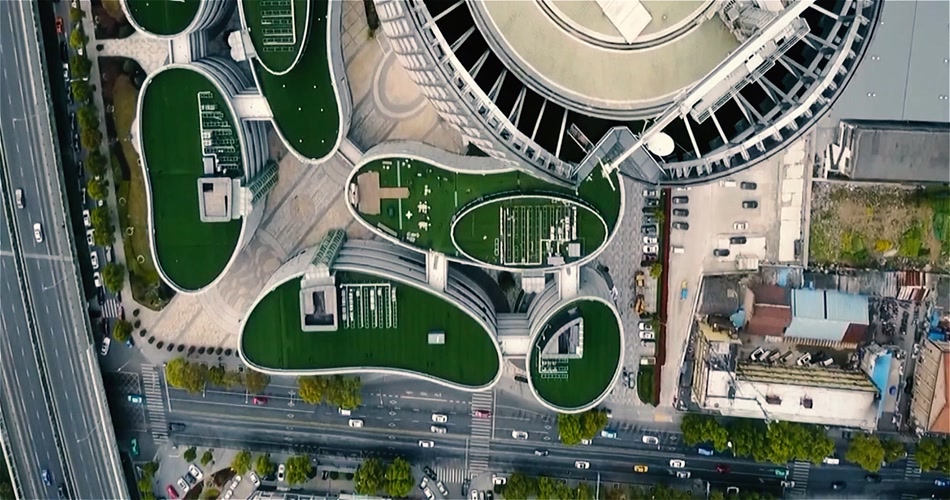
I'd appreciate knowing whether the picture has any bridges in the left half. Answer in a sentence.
Yes, the scene does show a bridge in the left half.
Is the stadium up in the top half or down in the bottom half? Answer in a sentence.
The stadium sits in the top half of the picture.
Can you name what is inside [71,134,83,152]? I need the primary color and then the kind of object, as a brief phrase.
black vehicle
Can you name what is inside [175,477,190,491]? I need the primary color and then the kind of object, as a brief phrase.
white vehicle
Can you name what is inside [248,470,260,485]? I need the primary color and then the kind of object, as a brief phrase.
white vehicle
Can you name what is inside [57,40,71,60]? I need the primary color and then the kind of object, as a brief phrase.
black vehicle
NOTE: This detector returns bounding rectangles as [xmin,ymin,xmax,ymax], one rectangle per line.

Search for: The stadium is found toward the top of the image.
[369,0,886,189]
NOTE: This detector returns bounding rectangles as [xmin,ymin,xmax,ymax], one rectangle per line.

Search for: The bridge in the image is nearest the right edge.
[551,263,580,304]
